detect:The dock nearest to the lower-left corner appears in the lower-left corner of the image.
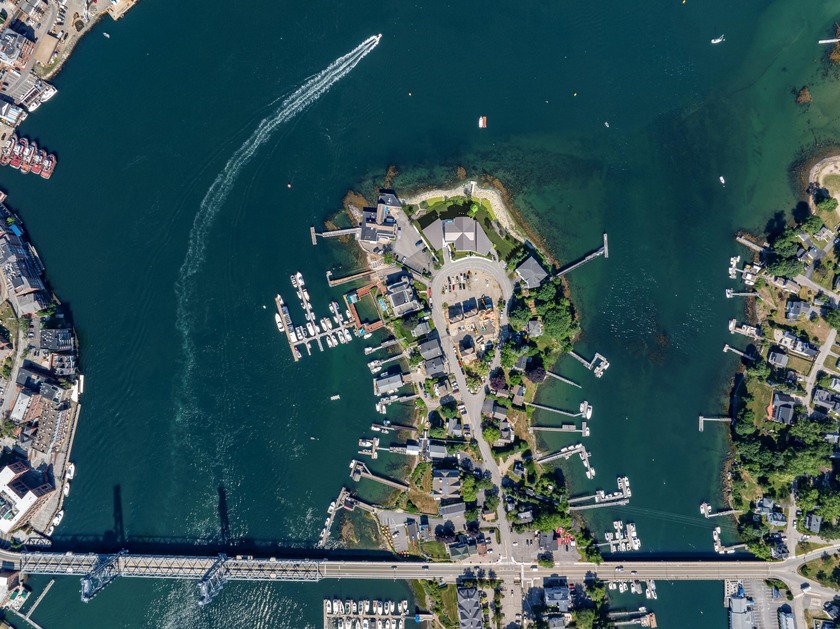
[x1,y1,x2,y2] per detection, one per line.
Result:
[7,577,56,629]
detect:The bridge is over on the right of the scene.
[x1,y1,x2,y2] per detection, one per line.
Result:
[600,559,764,580]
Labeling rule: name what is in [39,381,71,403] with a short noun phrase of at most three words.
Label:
building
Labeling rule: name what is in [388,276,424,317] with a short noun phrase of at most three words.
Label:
house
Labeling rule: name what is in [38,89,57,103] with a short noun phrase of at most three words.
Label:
ship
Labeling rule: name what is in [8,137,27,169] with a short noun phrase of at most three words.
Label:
boat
